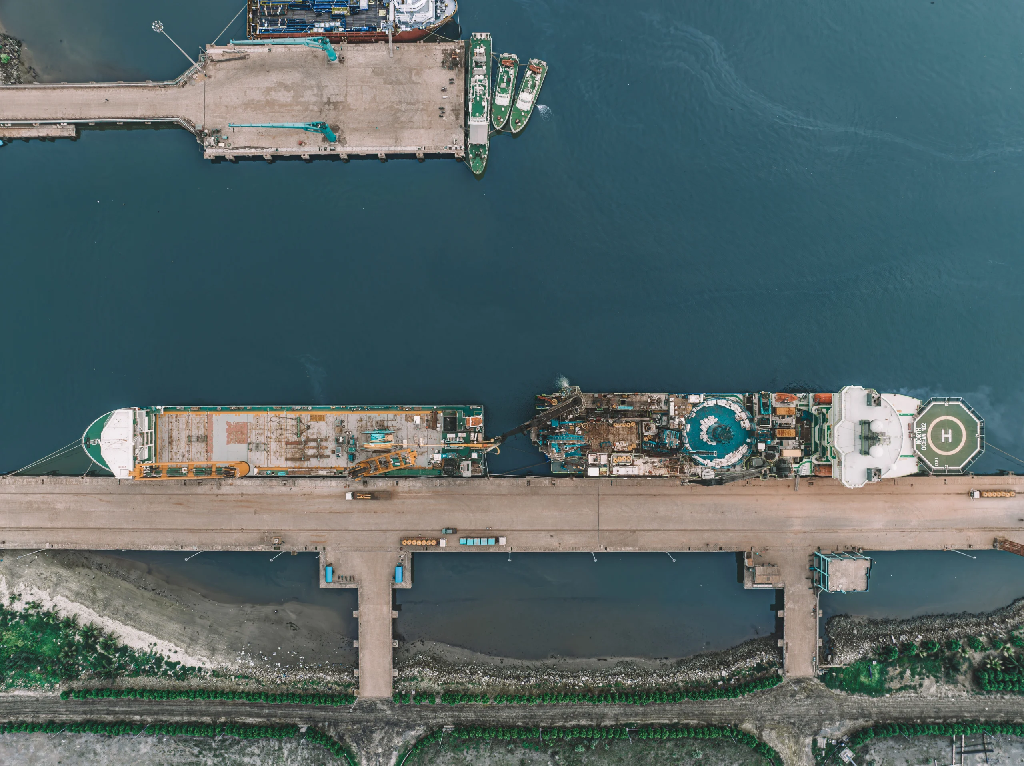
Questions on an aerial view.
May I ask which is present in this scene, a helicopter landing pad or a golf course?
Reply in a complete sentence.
It is a helicopter landing pad that can be seen here.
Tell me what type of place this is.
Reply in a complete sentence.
This looks like a port.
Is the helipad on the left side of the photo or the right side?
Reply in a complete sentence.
The helipad appears in the right half of the scene.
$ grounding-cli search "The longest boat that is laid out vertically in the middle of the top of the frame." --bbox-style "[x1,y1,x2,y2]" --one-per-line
[468,32,492,175]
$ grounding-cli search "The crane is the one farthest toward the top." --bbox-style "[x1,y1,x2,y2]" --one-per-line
[230,32,339,64]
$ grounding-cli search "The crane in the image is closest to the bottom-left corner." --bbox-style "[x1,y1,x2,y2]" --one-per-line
[128,460,256,480]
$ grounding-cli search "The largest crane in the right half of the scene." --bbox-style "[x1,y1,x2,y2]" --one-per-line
[681,457,797,486]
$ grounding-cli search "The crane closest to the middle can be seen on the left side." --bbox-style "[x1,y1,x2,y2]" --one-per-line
[350,449,418,480]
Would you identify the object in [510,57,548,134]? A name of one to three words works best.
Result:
boat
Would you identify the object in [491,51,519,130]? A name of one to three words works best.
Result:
boat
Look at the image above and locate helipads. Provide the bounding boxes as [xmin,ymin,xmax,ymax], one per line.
[913,397,985,474]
